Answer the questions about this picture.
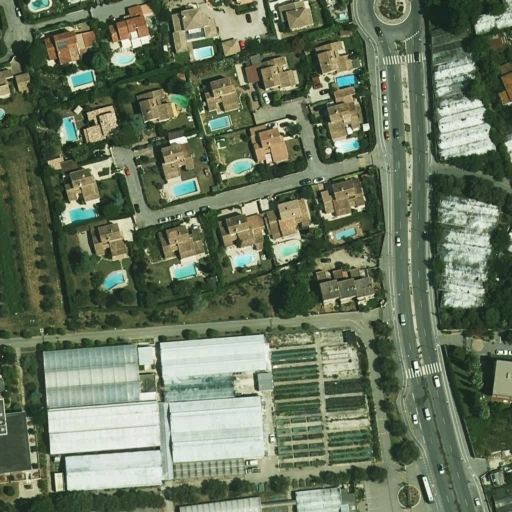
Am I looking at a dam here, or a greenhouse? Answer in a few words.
greenhouse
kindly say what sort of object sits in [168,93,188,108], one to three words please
swimming pool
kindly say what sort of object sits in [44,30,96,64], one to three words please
house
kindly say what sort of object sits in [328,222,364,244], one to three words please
swimming pool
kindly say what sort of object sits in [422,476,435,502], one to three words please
vehicle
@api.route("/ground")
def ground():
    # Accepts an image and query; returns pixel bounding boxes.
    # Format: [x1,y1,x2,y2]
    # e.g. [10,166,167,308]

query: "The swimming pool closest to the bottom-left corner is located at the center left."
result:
[102,270,127,292]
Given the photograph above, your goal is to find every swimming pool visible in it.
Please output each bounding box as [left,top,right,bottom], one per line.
[227,250,256,273]
[164,178,200,202]
[328,222,364,244]
[208,116,232,134]
[64,198,100,225]
[168,93,188,108]
[221,159,255,180]
[334,138,360,152]
[192,46,215,61]
[66,69,96,92]
[170,258,198,281]
[60,116,80,145]
[335,74,357,89]
[28,0,52,12]
[274,240,300,260]
[102,270,127,292]
[336,12,349,23]
[110,50,136,68]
